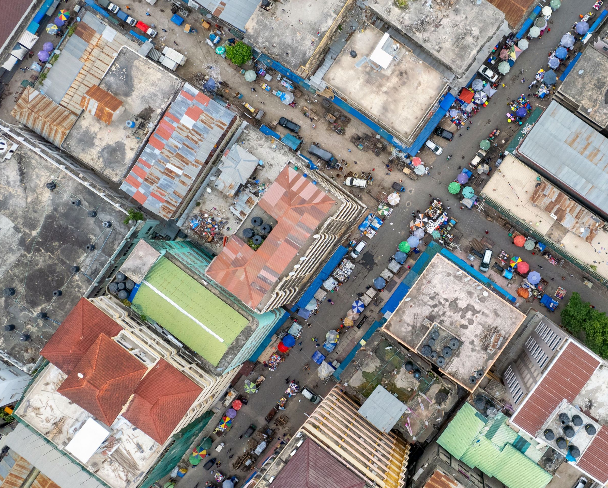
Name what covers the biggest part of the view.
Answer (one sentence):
Most of the picture is covered by buildings.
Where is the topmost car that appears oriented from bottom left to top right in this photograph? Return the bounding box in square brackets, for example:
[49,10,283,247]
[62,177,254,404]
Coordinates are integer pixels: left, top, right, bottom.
[468,149,486,169]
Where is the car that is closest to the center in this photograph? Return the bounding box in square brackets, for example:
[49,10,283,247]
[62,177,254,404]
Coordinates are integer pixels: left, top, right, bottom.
[351,239,367,259]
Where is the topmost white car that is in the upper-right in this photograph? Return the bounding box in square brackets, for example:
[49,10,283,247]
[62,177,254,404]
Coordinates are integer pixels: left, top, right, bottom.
[479,67,499,83]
